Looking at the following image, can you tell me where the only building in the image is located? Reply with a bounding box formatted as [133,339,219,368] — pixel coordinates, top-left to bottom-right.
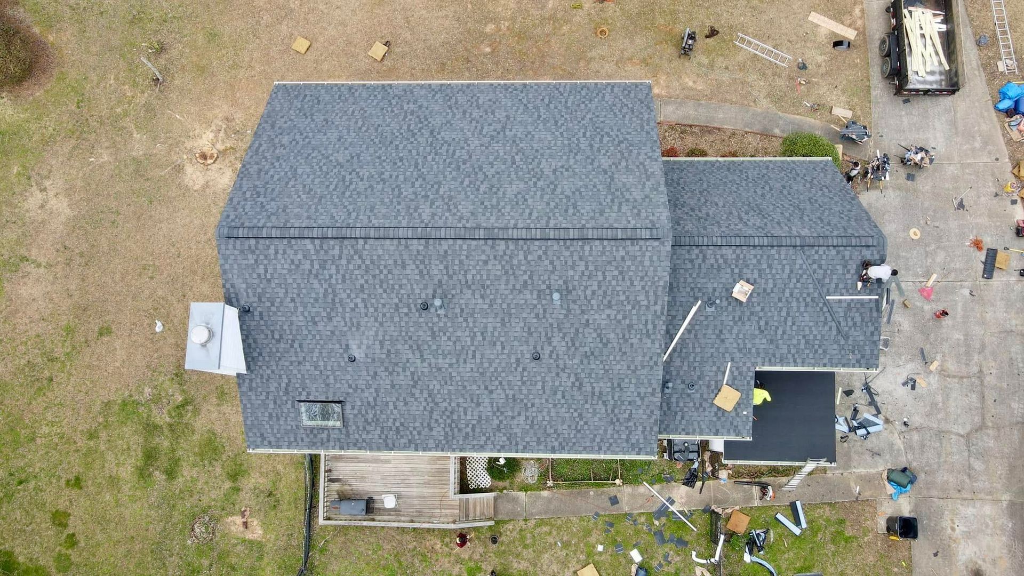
[184,80,883,467]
